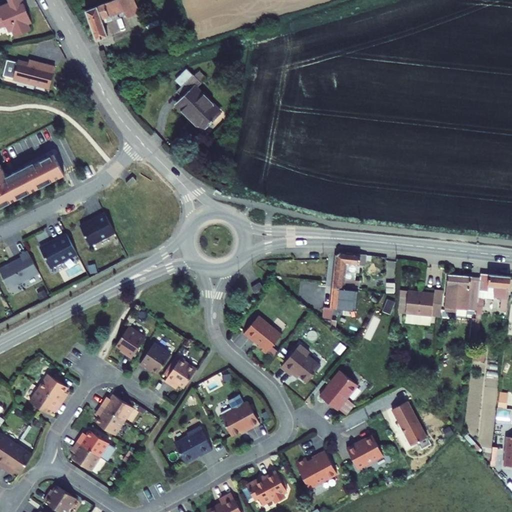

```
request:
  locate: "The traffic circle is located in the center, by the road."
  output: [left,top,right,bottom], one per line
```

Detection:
[150,174,282,294]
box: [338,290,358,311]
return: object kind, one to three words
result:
barn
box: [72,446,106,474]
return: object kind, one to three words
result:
house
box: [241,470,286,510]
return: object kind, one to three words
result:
house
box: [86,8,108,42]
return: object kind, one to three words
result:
building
